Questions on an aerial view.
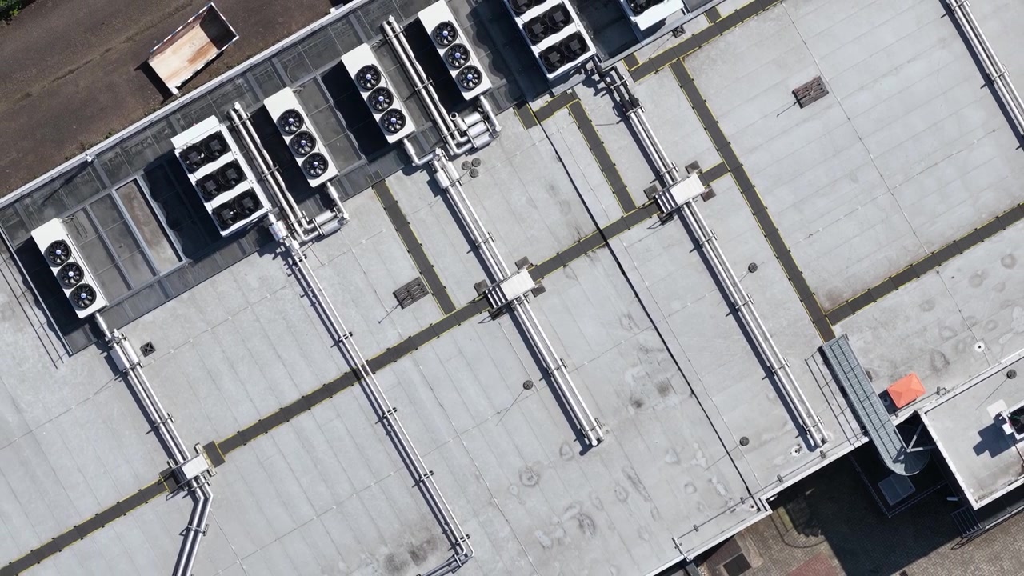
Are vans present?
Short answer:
No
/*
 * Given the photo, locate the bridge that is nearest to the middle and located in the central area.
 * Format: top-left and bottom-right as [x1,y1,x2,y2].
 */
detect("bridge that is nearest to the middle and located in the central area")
[481,257,546,318]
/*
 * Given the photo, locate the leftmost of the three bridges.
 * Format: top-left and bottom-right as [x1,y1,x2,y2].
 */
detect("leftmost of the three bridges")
[160,440,227,491]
